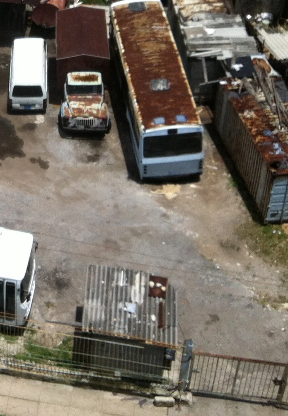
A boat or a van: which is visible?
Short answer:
van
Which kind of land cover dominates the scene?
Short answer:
paved ground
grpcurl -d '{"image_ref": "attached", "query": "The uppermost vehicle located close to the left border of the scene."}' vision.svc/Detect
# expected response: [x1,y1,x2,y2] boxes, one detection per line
[9,45,51,114]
